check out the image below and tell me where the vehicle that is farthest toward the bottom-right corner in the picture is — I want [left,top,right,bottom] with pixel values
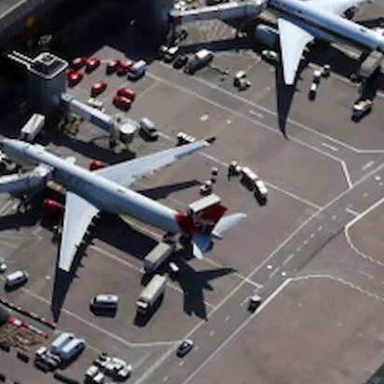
[248,296,261,308]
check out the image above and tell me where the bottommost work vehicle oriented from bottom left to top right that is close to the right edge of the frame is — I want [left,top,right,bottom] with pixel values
[348,99,376,122]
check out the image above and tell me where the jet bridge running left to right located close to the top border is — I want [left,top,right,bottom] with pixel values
[165,0,272,41]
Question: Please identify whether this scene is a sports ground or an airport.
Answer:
airport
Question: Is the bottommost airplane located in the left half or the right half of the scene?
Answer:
left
